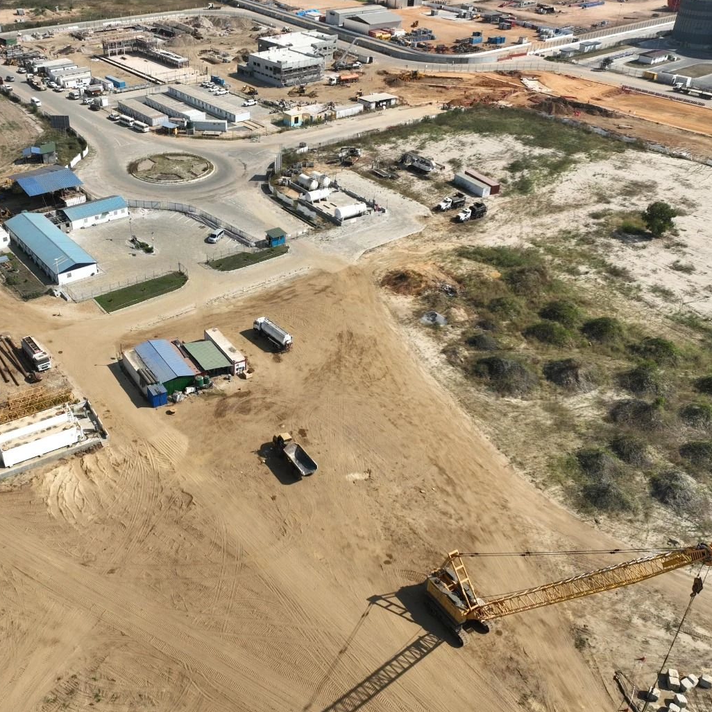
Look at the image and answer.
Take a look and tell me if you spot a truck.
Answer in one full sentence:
Yes, the image includes a truck.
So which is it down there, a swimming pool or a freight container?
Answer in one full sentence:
Of the two, only a freight container appears.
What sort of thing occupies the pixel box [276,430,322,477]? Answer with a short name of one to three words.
truck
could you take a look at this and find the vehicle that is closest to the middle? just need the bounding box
[254,311,302,348]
